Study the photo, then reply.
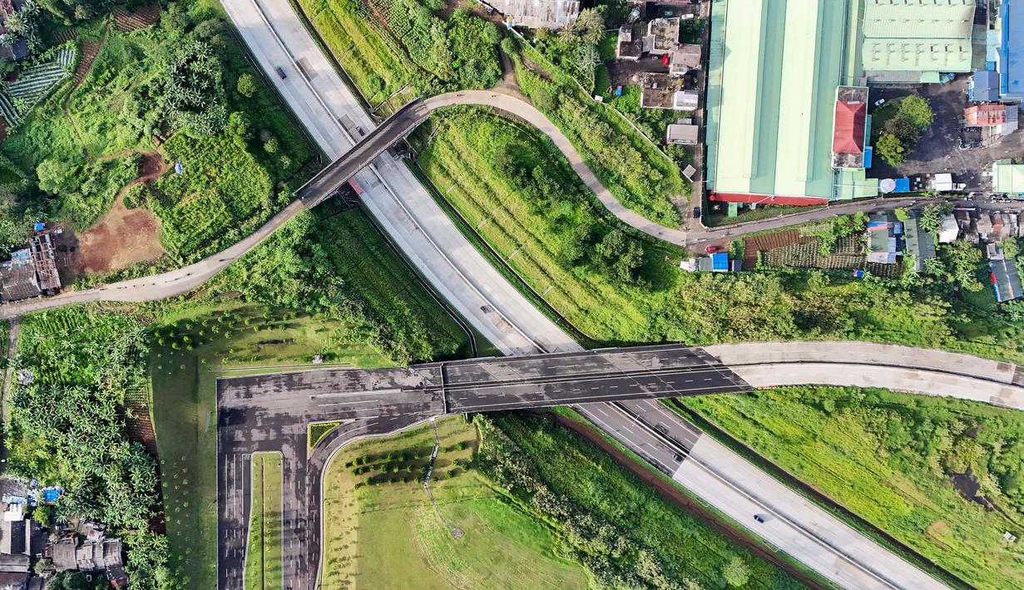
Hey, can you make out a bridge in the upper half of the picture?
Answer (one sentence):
Yes, a bridge is visible in the upper half of the picture.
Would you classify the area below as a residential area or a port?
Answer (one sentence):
The picture captures a residential area.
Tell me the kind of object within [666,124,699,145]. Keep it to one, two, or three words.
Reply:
house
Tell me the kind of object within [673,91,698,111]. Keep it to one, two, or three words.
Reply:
house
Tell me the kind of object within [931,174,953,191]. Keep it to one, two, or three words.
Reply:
shed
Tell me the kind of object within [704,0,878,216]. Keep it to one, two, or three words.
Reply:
building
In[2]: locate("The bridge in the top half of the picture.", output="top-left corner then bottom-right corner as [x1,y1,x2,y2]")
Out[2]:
[293,96,432,207]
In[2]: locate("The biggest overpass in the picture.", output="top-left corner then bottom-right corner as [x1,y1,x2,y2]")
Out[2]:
[410,343,754,414]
